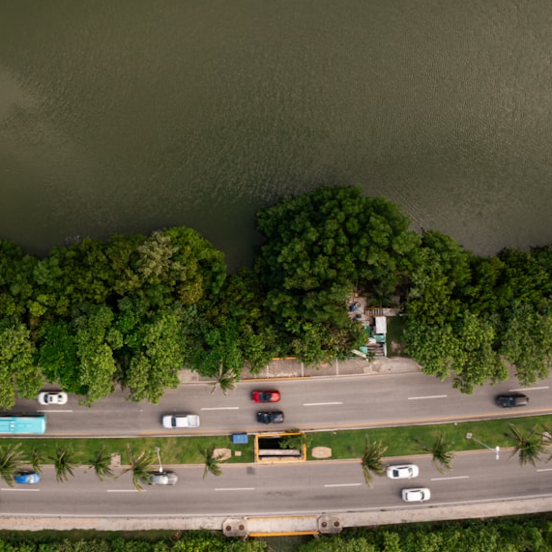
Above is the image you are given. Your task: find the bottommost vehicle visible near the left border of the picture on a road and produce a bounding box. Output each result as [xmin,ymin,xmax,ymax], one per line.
[14,469,41,485]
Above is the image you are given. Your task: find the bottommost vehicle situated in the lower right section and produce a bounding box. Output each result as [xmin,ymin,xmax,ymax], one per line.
[400,487,430,502]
